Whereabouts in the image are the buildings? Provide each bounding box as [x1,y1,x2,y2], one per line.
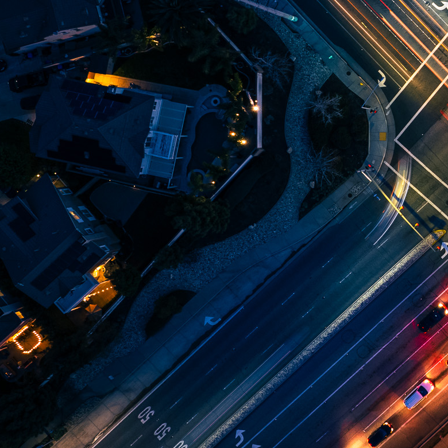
[0,173,125,315]
[30,71,195,179]
[0,0,121,55]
